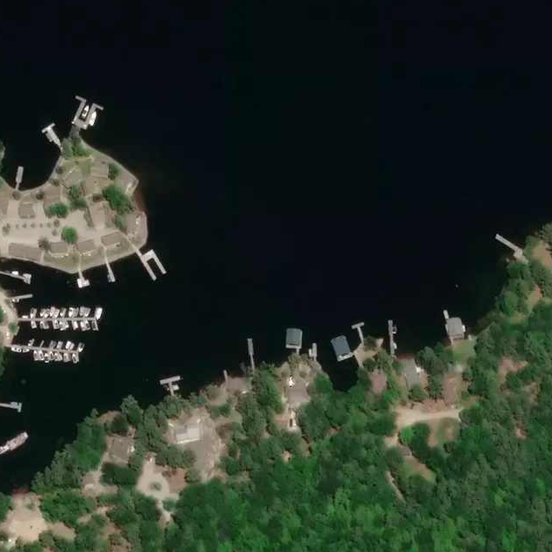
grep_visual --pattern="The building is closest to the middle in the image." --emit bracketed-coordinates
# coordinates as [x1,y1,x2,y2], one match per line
[285,330,303,350]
